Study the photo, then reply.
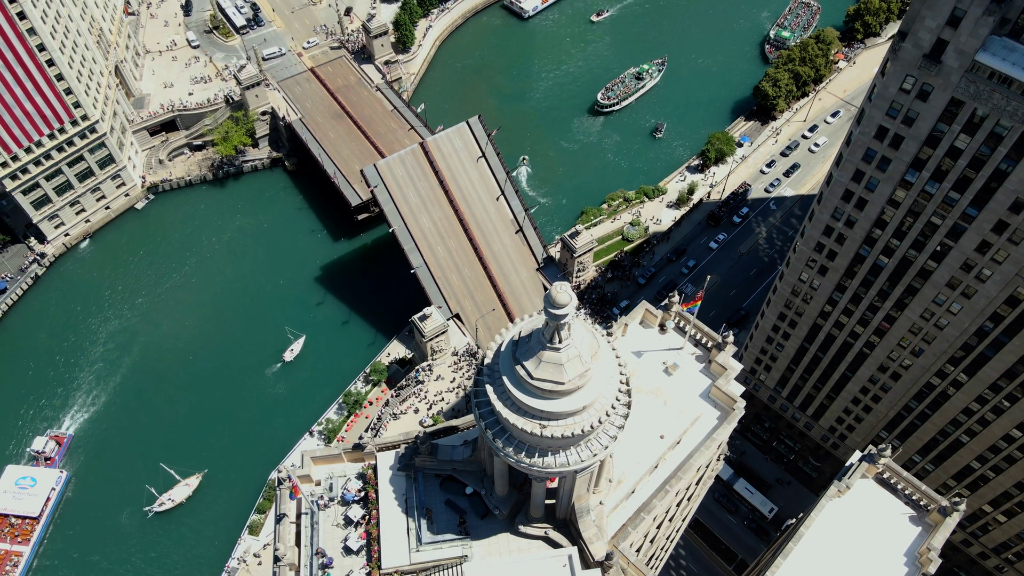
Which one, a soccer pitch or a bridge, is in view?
bridge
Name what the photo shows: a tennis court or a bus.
bus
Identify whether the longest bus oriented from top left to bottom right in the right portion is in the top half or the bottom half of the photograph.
bottom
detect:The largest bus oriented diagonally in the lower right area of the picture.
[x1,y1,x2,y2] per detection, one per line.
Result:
[710,459,780,528]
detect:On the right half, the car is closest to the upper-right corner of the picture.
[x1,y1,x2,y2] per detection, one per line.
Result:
[824,108,842,124]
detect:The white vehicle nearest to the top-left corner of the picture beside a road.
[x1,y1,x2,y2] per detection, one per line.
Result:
[185,30,199,47]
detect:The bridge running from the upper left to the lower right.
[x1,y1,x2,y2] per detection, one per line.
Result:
[276,52,557,356]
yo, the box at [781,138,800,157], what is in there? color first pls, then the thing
gray car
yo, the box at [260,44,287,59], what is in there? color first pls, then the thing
white vehicle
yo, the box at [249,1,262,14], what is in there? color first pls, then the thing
black vehicle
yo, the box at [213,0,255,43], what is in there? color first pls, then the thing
white bus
